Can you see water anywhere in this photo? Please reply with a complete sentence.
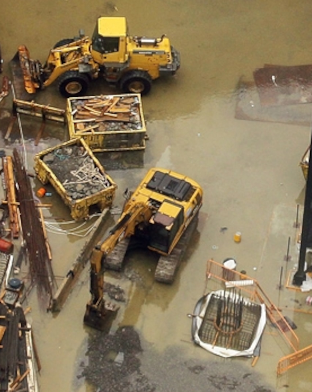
Yes, water shows up in the scene.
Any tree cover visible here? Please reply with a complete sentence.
No, no tree cover is visible.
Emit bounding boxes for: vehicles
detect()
[8,23,179,103]
[79,170,201,325]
